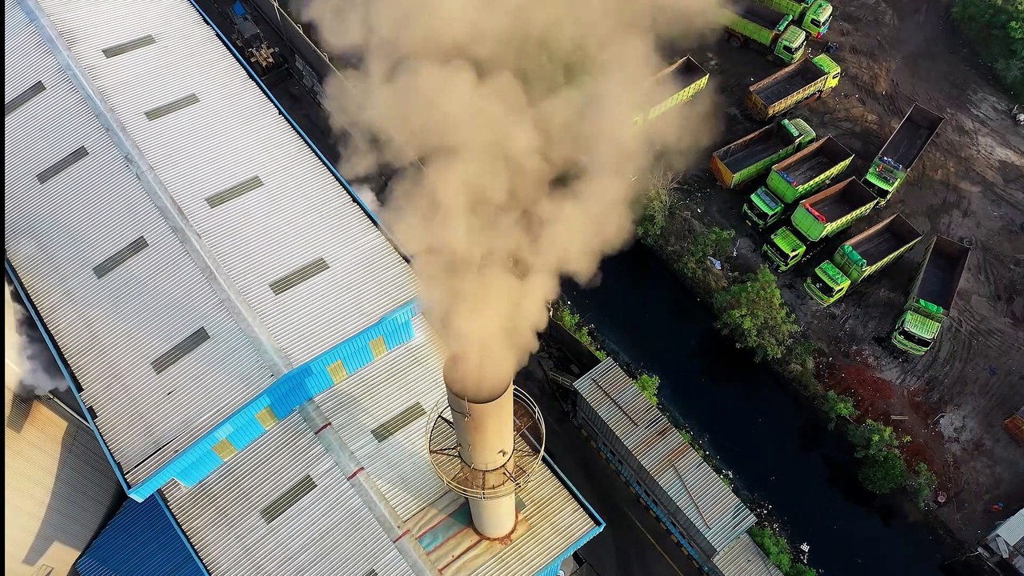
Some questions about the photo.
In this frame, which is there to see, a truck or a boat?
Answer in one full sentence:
This aerial view contains a truck.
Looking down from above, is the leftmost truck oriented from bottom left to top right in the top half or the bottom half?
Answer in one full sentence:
It is in the top half that the leftmost truck oriented from bottom left to top right appears.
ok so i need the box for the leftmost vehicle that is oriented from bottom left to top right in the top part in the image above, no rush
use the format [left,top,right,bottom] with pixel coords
[609,55,709,137]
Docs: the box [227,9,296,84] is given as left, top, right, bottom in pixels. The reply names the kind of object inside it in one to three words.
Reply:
work vehicle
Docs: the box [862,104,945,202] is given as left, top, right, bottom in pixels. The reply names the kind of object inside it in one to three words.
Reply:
truck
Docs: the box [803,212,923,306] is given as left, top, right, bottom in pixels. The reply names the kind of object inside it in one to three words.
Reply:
truck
